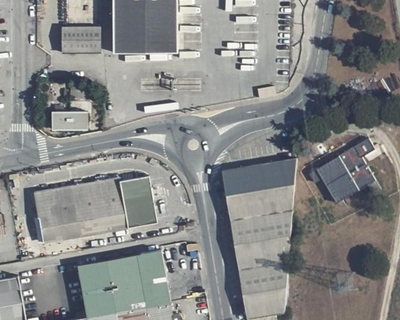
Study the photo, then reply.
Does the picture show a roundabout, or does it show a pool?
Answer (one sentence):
There is a roundabout in the scene.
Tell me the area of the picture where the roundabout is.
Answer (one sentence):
The roundabout is in the center part of the image.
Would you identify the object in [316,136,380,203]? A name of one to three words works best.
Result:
house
